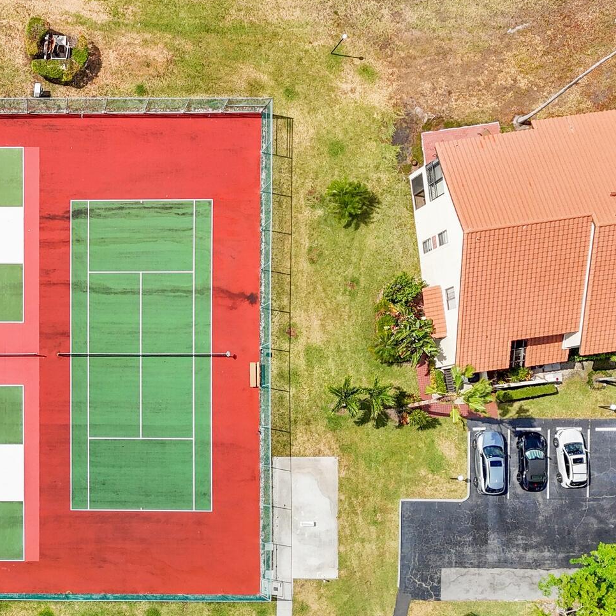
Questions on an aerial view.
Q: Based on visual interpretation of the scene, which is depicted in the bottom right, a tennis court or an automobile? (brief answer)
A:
automobile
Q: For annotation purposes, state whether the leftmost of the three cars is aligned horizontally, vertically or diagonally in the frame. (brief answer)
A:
vertically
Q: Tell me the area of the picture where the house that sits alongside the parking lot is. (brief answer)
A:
right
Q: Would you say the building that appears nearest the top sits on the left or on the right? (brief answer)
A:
left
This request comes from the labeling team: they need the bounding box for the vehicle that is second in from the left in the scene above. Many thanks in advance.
[519,433,551,490]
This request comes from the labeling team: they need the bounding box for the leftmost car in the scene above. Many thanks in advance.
[475,431,508,496]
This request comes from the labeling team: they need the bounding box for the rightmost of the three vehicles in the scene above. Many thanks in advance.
[557,428,593,489]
